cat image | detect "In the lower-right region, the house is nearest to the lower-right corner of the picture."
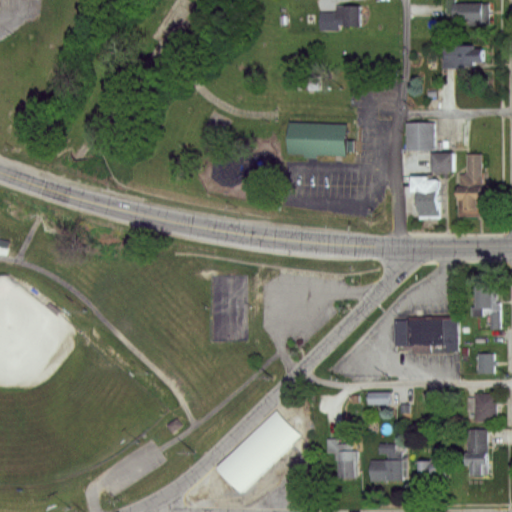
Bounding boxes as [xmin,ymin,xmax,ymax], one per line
[462,430,494,478]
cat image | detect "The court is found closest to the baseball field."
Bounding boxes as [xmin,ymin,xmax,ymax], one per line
[212,276,248,341]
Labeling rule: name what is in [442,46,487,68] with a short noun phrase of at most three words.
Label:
house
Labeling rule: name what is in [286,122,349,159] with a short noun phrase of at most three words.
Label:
building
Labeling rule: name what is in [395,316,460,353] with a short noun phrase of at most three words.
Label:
building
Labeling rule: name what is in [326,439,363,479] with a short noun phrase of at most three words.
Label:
house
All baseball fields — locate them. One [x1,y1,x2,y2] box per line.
[0,276,160,482]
